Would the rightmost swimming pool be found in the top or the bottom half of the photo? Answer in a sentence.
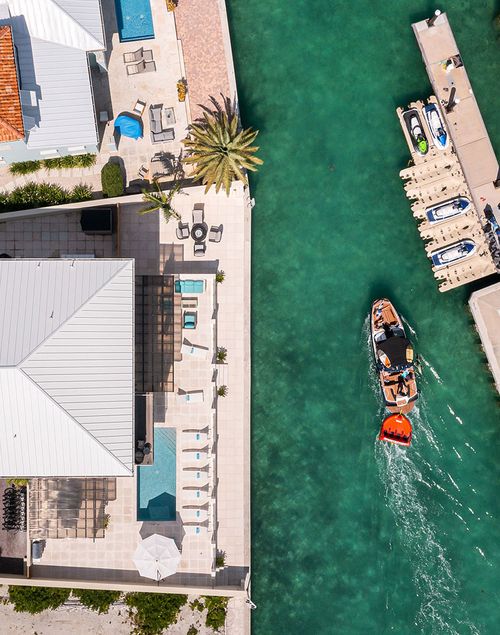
The rightmost swimming pool sits in the bottom half of the picture.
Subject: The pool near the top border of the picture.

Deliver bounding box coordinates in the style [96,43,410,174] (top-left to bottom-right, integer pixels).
[113,0,158,47]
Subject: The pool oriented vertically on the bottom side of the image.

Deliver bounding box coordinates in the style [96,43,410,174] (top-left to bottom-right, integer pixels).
[137,428,176,522]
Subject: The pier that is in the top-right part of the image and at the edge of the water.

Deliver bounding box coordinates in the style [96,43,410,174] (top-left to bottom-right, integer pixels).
[411,14,500,272]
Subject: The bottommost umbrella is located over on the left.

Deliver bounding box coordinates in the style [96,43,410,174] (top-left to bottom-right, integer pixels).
[133,530,182,582]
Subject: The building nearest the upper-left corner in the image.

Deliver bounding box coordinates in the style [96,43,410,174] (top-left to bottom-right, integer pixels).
[0,0,108,164]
